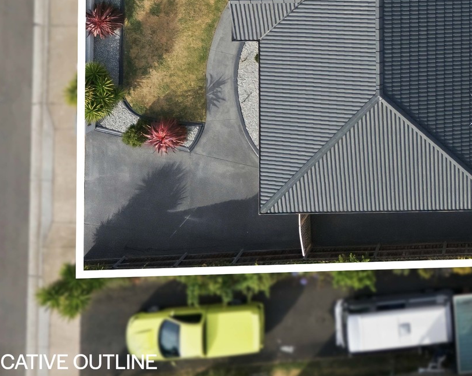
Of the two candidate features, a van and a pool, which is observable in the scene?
van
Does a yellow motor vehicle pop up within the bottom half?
Yes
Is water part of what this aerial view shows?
No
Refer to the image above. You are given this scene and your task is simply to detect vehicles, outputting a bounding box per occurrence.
[128,296,265,366]
[335,277,454,353]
